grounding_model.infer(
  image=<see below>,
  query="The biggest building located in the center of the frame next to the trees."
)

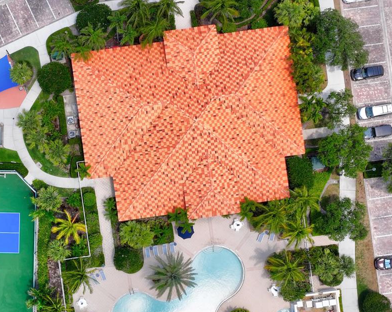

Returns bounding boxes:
[71,24,306,222]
